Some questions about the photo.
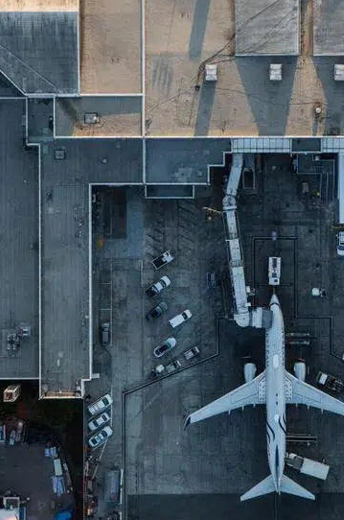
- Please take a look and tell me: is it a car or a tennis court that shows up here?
car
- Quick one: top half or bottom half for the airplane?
bottom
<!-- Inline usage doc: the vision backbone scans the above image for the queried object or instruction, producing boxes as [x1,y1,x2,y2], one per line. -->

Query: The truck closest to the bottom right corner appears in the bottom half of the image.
[284,454,329,484]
